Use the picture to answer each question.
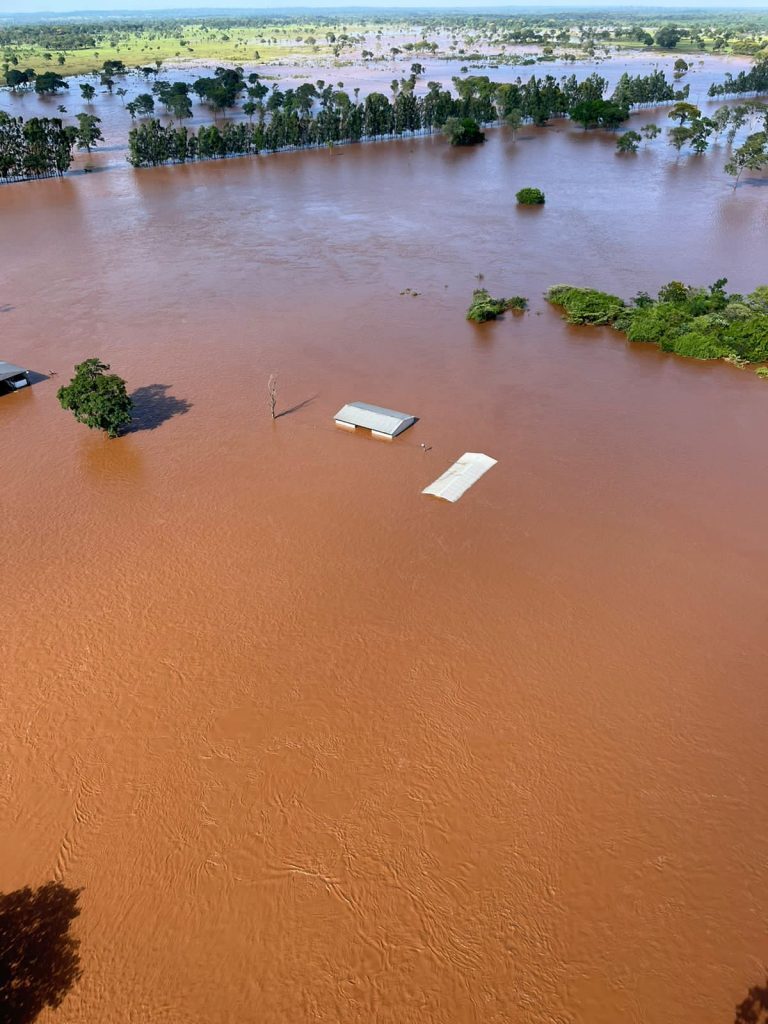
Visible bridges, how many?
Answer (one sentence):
There are no bridges in the image.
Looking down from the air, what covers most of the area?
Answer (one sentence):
For the most part, this view shows water.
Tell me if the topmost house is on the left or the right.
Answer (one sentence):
You can find the topmost house on the left side of the picture.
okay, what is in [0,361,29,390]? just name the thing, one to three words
house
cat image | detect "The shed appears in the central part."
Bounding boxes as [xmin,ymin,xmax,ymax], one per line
[333,401,415,439]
